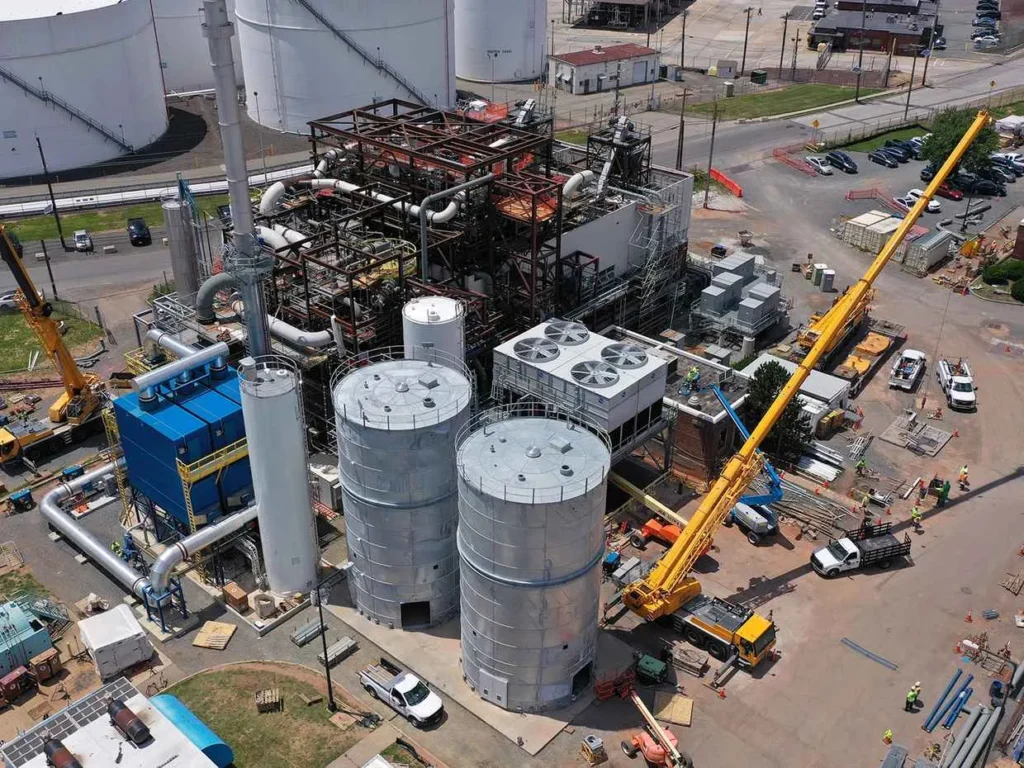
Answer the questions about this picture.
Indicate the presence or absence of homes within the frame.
Yes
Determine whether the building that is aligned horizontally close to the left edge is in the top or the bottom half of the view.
bottom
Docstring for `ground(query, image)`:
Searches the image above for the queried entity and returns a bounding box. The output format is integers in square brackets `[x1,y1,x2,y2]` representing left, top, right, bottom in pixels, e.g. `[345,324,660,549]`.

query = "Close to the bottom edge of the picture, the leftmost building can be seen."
[0,676,208,768]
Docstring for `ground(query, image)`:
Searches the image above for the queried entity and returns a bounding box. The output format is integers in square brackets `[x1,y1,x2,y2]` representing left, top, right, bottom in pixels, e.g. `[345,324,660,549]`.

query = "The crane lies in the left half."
[0,206,136,477]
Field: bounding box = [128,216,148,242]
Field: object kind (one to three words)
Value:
car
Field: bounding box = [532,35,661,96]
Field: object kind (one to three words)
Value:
building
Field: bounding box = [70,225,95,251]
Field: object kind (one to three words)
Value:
truck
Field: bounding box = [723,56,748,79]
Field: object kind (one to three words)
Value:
shed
